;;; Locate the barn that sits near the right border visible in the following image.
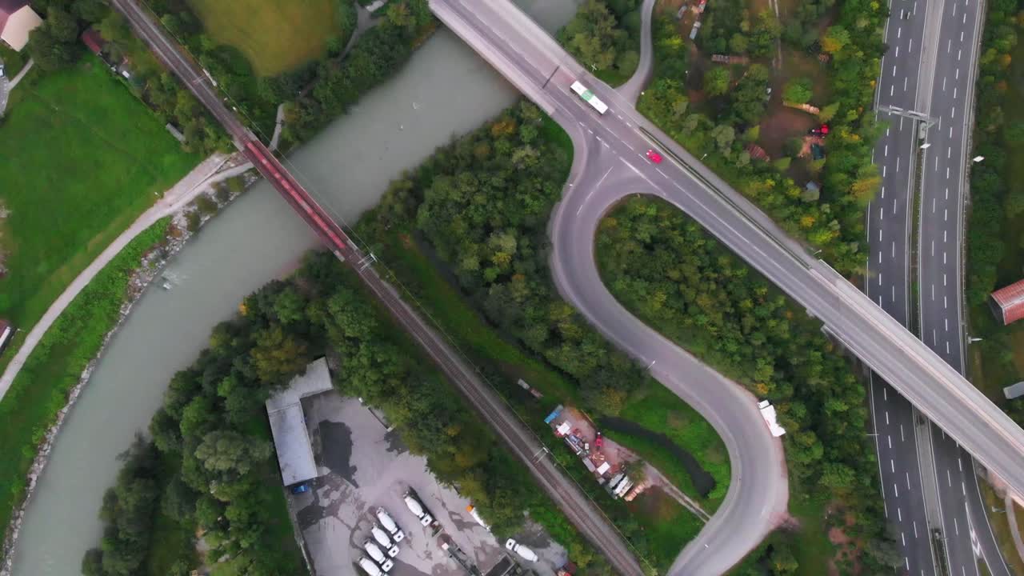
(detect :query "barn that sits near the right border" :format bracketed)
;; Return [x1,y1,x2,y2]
[988,279,1024,328]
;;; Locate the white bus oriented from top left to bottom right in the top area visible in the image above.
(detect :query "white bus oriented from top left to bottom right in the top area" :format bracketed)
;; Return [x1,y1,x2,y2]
[571,82,608,118]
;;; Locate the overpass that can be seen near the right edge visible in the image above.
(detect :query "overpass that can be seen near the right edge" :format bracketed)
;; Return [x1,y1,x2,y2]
[782,259,1024,509]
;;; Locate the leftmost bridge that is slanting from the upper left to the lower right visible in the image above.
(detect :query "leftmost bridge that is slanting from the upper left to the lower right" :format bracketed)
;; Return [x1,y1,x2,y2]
[231,127,362,265]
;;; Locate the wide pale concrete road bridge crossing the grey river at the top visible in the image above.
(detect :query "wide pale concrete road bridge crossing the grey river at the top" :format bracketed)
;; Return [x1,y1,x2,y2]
[421,0,610,115]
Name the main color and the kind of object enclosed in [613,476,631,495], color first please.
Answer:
white vehicle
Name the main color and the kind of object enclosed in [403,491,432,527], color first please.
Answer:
white truck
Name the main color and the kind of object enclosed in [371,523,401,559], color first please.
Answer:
white truck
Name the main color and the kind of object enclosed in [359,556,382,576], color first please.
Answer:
white vehicle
